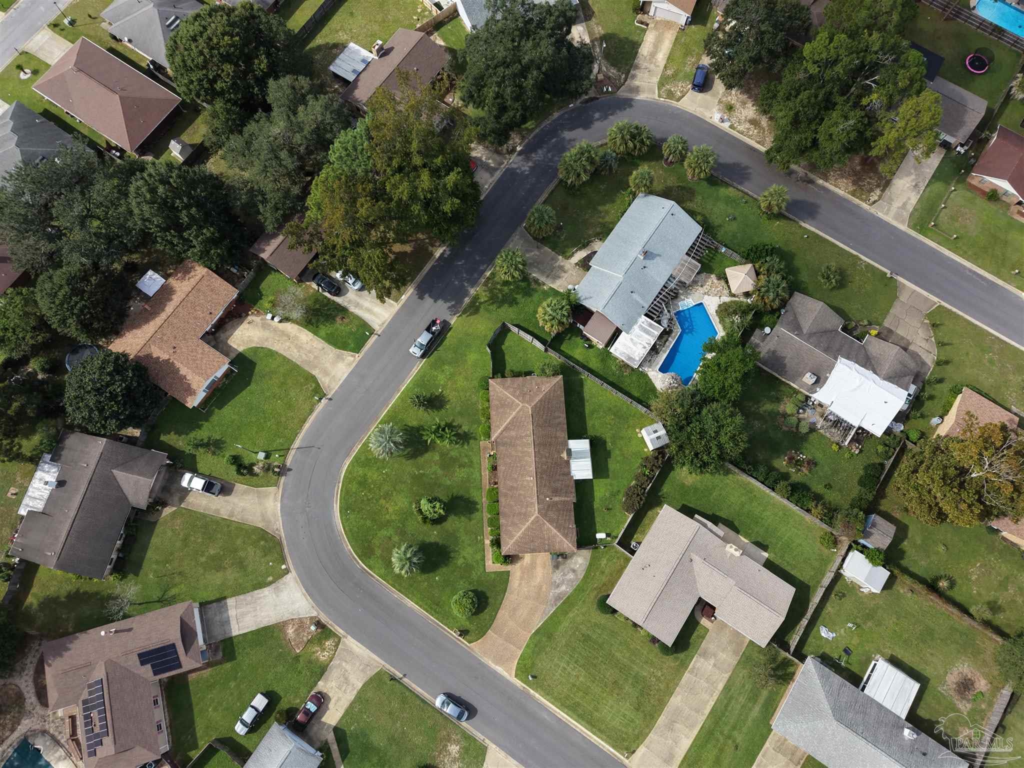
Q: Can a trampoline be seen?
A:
Yes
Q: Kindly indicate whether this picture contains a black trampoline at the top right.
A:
Yes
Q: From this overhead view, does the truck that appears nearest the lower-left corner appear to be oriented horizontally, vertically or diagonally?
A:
diagonally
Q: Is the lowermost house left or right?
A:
left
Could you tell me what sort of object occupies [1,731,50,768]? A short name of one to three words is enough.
swimming pool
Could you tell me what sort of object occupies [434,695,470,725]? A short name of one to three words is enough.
car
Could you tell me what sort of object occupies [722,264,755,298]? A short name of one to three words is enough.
gazebo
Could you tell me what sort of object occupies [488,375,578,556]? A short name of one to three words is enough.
house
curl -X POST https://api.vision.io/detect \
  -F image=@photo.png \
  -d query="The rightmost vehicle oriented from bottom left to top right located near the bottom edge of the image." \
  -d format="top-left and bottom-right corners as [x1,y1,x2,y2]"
[293,691,325,731]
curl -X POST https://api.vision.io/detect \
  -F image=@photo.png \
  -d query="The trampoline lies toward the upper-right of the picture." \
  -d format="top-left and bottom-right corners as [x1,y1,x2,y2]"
[962,47,995,75]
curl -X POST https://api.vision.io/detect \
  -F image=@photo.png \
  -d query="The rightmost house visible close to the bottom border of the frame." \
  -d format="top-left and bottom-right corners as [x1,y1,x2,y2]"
[769,656,976,768]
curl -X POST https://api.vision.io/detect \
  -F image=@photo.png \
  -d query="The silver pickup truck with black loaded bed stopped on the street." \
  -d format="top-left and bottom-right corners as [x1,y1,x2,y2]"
[409,315,447,358]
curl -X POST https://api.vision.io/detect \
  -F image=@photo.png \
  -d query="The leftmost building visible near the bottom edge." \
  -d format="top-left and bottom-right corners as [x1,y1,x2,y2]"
[42,600,209,768]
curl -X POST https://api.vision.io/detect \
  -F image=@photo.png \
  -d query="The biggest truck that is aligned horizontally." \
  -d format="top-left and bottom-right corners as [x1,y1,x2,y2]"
[179,472,225,496]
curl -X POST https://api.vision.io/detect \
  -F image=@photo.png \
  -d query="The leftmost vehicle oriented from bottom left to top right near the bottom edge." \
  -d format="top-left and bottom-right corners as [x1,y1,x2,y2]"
[233,691,274,735]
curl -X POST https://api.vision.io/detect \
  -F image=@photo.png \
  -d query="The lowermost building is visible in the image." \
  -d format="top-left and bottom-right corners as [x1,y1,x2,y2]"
[242,720,328,768]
